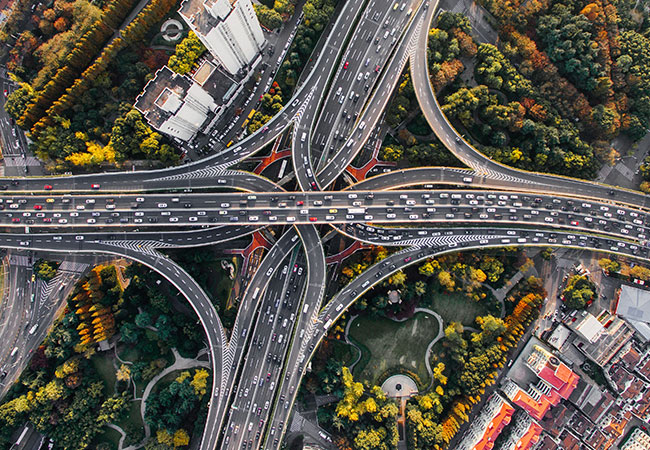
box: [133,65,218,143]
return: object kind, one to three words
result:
building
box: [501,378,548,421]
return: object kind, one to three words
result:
building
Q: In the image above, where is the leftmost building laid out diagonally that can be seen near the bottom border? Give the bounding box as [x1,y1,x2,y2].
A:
[454,390,514,450]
